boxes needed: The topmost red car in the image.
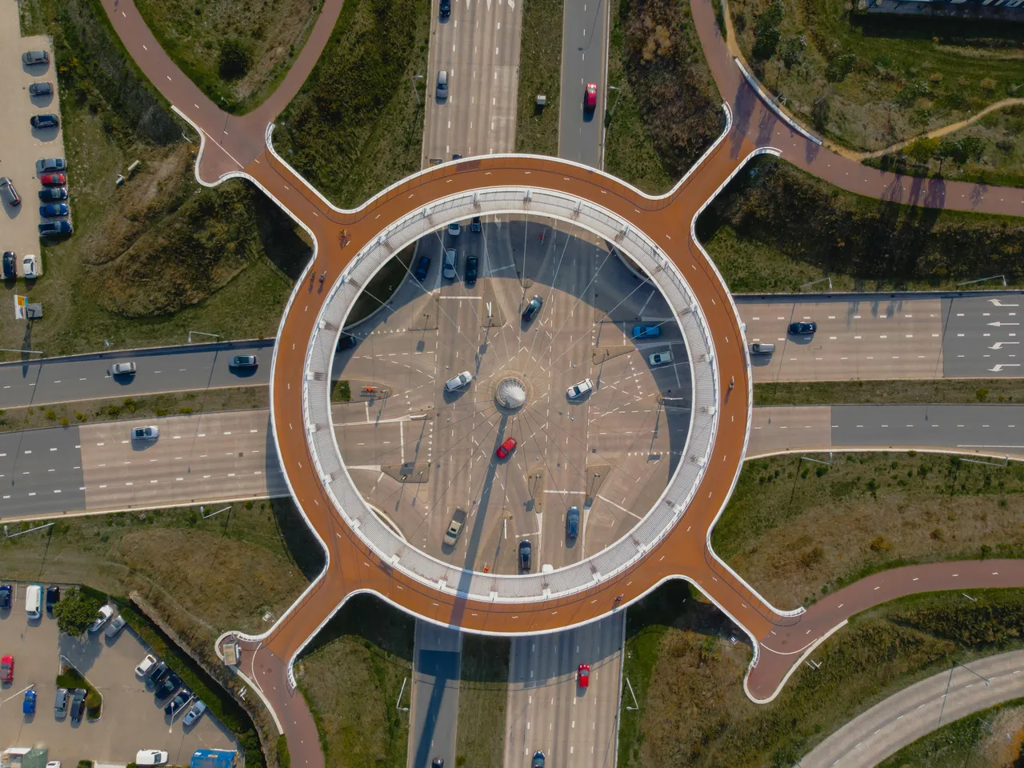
[584,84,597,110]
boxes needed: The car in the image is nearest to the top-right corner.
[787,321,817,335]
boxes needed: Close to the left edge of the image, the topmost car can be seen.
[22,50,52,66]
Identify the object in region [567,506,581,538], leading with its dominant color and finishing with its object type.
blue car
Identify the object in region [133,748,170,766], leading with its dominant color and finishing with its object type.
white vehicle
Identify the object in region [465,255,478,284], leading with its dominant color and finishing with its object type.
black vehicle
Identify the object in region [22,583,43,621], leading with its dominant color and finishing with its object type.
white vehicle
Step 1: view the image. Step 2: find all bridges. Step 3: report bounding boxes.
[217,100,808,689]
